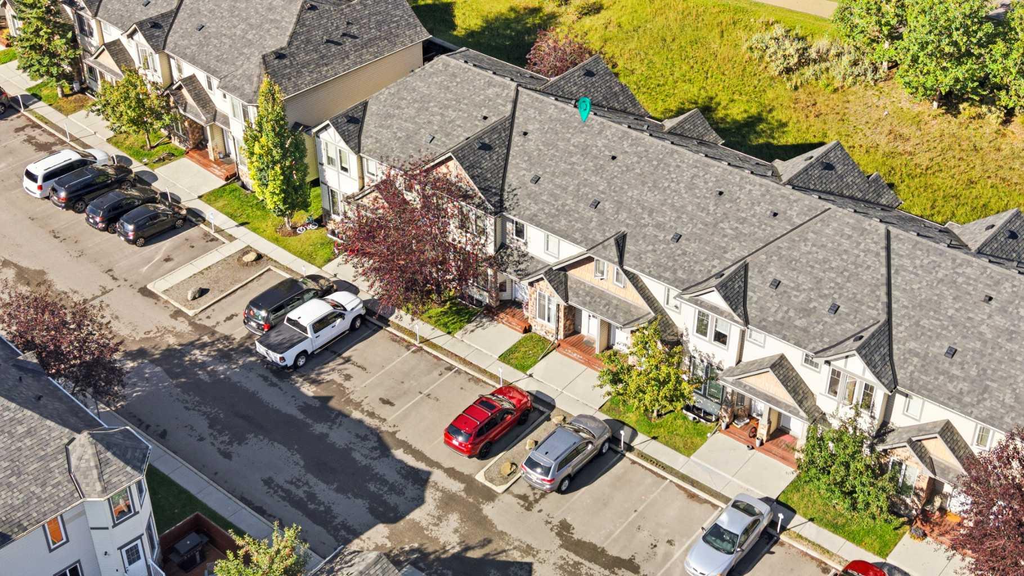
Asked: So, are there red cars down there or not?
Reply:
Yes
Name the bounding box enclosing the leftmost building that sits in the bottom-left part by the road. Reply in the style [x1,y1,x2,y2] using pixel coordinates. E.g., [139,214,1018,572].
[0,335,166,576]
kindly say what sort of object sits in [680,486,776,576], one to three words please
car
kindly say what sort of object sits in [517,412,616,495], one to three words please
car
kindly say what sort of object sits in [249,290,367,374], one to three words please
truck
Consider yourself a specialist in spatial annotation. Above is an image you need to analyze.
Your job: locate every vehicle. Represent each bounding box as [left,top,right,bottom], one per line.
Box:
[240,268,341,334]
[680,486,776,576]
[517,412,616,495]
[103,196,190,246]
[440,383,535,459]
[41,158,138,214]
[20,143,118,196]
[249,290,367,374]
[79,180,166,231]
[0,91,10,116]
